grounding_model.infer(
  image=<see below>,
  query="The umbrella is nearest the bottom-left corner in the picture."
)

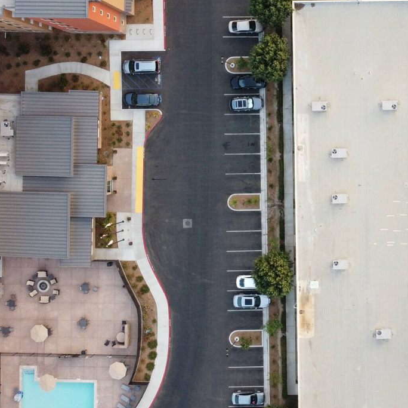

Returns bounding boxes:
[38,373,56,392]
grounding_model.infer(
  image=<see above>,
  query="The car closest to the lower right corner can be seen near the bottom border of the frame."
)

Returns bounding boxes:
[232,389,266,406]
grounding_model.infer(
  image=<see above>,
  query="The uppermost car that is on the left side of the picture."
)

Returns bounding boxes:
[125,58,162,75]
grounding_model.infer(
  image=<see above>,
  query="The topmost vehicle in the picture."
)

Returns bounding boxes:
[228,19,263,35]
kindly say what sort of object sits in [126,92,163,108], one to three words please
car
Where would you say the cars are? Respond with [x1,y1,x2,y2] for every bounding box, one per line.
[233,293,272,309]
[231,73,266,90]
[232,389,266,406]
[126,92,163,108]
[235,274,266,290]
[228,19,263,35]
[125,58,162,75]
[231,96,263,112]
